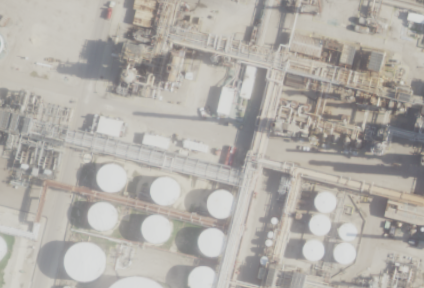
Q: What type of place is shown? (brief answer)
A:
industrial area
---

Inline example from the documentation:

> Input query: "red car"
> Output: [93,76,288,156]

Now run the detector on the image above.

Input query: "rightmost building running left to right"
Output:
[386,201,424,224]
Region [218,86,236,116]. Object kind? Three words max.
building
